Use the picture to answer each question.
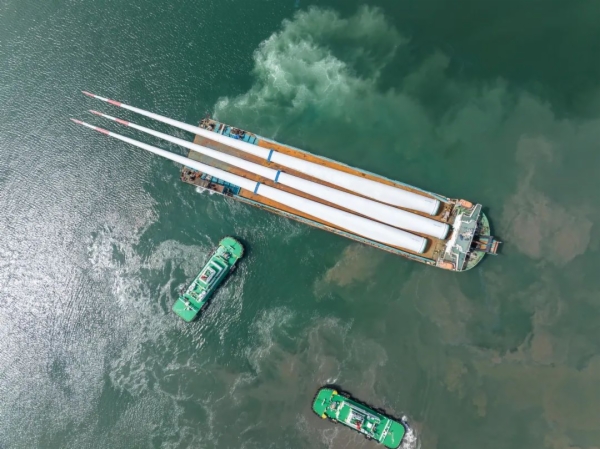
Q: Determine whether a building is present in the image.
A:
No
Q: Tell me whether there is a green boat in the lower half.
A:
Yes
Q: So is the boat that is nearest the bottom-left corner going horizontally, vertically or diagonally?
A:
diagonally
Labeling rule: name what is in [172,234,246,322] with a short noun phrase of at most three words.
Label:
boat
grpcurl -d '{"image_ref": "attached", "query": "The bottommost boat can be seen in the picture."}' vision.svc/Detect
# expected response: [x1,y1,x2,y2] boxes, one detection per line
[311,385,405,449]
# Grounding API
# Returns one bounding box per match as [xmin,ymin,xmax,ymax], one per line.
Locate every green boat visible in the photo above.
[172,234,246,322]
[311,385,405,449]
